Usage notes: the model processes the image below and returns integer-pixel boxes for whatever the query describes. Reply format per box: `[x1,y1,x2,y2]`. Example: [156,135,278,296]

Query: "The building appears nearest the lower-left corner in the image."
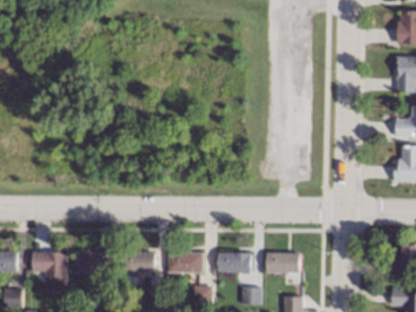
[1,289,23,310]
